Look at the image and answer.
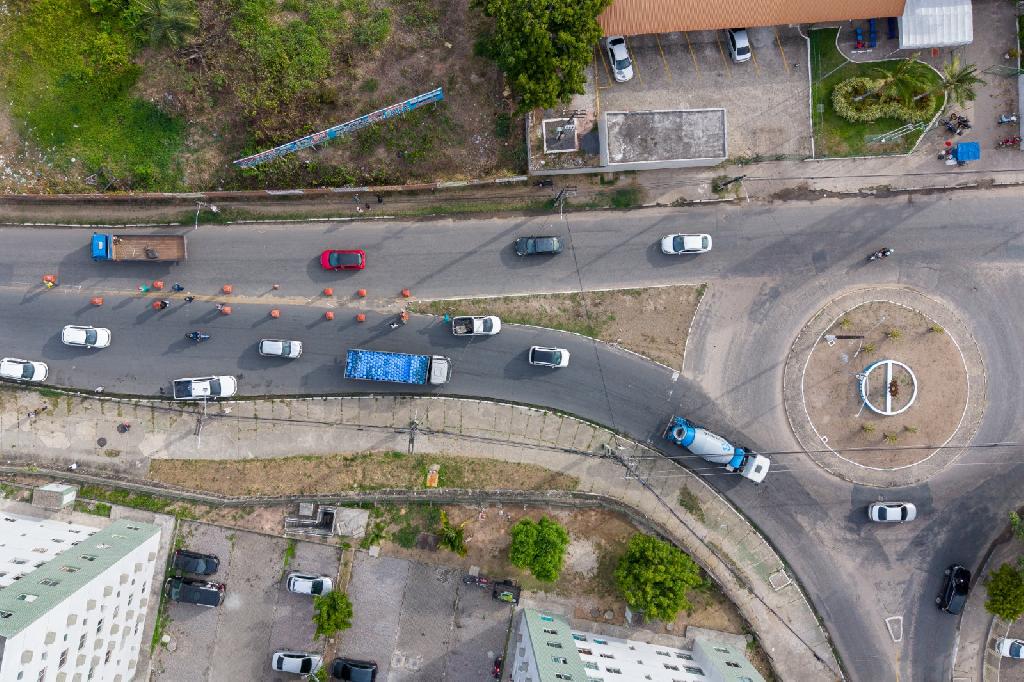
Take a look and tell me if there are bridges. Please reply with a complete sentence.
No, there appears to be no bridge in this shot.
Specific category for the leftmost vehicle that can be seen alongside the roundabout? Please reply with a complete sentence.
In the photo, the leftmost vehicle that can be seen alongside the roundabout shows up as a truck.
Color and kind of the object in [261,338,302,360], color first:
white car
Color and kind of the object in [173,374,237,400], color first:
white truck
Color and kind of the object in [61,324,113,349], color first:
white car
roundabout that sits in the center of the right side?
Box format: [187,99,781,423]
[802,300,972,470]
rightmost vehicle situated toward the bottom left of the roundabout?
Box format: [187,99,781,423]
[661,414,769,486]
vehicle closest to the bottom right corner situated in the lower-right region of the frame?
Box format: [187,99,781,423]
[994,637,1024,660]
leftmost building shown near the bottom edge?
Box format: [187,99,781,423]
[0,506,160,682]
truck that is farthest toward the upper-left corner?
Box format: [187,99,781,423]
[92,231,189,265]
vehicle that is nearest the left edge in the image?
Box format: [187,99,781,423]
[0,358,51,384]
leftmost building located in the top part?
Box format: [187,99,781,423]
[597,108,727,172]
